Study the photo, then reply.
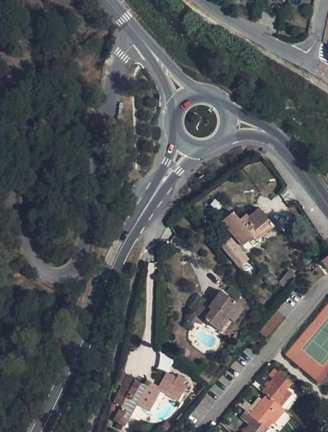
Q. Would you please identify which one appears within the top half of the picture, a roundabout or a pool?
roundabout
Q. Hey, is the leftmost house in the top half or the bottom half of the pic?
bottom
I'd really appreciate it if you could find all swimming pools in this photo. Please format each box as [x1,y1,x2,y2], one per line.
[156,404,176,420]
[196,330,216,348]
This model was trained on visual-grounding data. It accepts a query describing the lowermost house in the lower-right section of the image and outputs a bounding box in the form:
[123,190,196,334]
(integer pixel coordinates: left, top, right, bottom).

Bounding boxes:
[240,396,290,432]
